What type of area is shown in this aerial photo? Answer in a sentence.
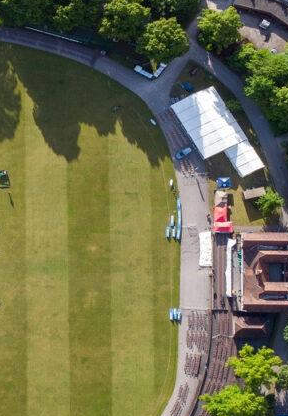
It's a sports ground.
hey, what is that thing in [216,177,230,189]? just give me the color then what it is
blue gazebo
